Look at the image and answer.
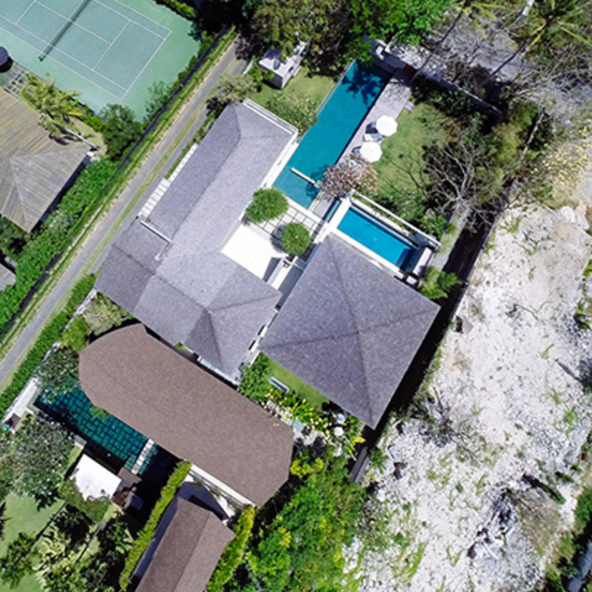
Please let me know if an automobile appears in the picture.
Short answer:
No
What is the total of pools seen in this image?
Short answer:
3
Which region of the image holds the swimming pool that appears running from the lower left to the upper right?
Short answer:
top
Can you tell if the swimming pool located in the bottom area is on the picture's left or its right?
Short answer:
left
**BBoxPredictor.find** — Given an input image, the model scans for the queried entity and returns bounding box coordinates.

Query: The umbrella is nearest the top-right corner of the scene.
[375,117,397,137]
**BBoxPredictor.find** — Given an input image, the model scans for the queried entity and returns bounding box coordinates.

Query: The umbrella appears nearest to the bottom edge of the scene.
[359,142,382,163]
